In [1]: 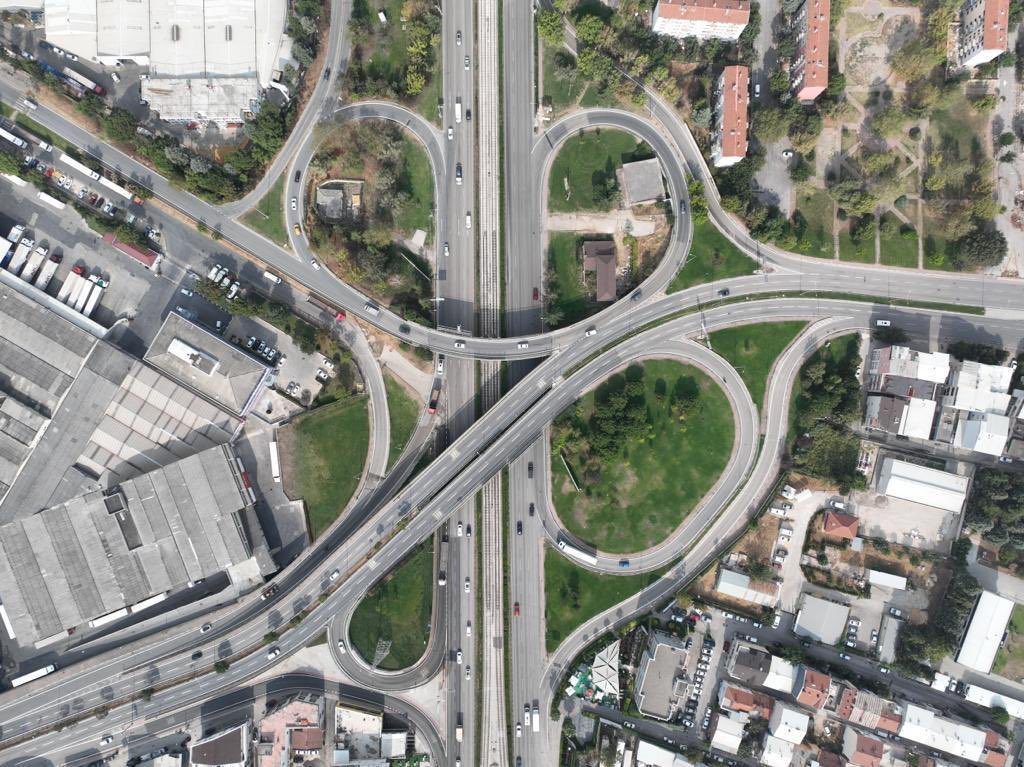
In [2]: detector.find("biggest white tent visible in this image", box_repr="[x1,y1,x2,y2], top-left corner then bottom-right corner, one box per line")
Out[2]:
[590,637,620,693]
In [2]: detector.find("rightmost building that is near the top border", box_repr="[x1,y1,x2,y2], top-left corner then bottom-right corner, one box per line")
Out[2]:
[963,0,1009,64]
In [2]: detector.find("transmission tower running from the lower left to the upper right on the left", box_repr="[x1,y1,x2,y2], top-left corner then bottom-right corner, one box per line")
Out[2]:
[368,634,392,668]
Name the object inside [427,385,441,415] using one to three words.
vehicle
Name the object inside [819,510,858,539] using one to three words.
house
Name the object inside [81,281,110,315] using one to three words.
truck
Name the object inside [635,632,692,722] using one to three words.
building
